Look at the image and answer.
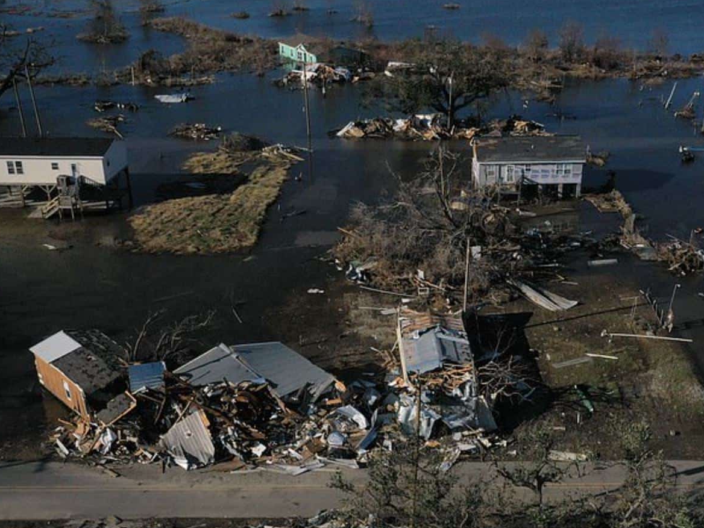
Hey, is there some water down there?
Yes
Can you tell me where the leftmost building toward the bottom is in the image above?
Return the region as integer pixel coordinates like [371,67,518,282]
[30,328,128,420]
